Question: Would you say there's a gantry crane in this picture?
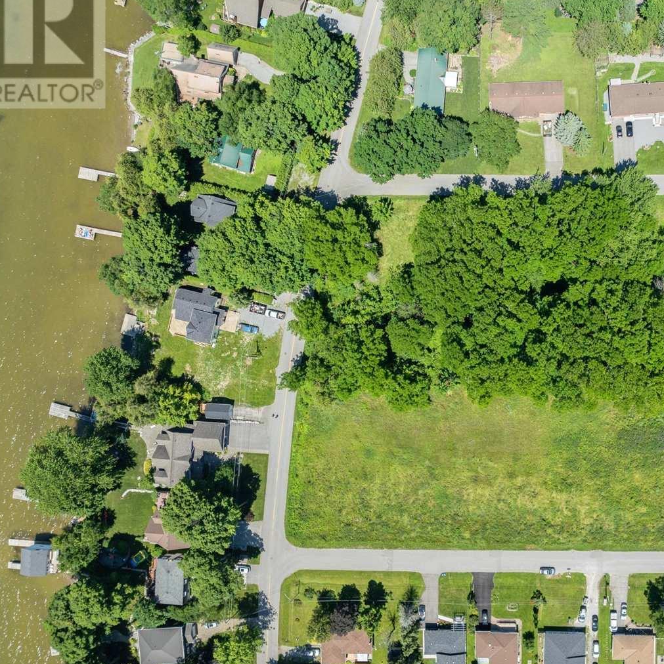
No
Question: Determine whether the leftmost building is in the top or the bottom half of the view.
bottom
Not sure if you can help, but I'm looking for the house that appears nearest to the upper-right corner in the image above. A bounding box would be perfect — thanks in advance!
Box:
[603,78,664,127]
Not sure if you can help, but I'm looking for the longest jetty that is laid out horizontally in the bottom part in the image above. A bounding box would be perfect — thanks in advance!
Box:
[48,402,107,423]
